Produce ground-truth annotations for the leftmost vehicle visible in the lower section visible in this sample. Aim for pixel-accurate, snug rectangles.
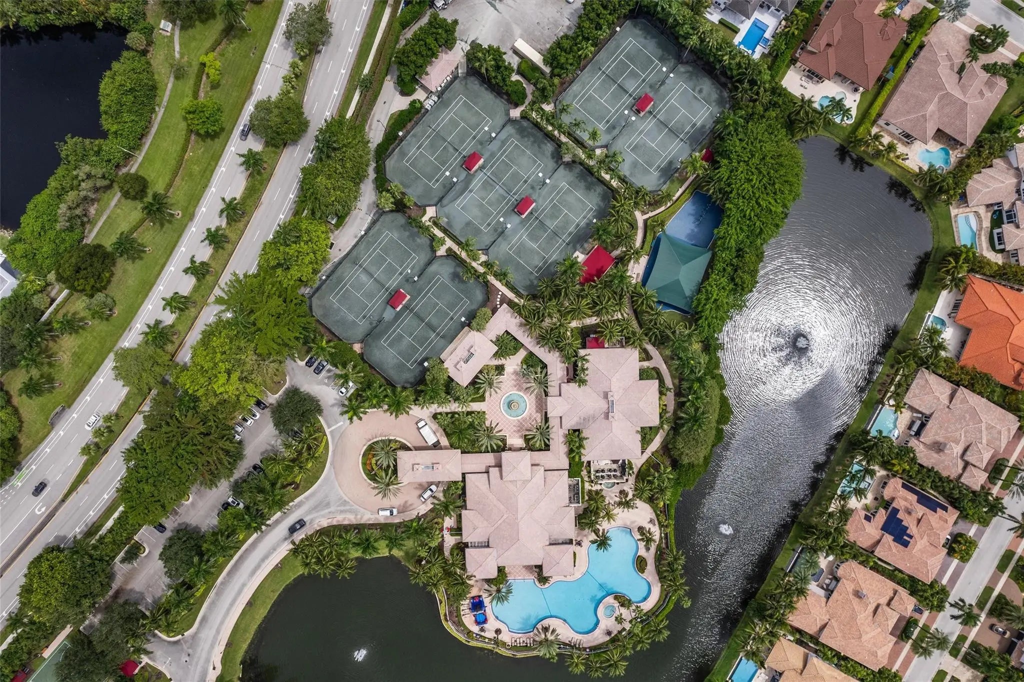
[31,479,47,497]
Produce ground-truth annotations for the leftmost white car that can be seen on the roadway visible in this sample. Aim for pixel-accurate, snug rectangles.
[85,412,100,430]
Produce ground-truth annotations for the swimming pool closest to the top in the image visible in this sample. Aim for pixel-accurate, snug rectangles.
[736,15,771,52]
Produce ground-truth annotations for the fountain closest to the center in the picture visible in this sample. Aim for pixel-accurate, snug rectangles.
[501,392,527,419]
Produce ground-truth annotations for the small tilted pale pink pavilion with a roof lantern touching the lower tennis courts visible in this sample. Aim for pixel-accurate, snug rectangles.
[441,327,497,387]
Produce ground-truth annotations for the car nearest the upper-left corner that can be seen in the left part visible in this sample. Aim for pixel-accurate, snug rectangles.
[238,122,252,141]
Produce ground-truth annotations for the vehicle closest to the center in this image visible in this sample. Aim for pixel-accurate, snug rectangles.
[416,418,440,449]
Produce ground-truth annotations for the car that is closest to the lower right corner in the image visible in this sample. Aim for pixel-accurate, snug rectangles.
[990,624,1008,638]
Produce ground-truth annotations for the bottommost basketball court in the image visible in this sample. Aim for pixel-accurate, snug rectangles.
[25,641,102,682]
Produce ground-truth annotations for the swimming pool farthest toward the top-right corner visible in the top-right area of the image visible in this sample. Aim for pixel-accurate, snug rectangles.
[917,145,953,171]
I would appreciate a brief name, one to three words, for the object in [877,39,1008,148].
house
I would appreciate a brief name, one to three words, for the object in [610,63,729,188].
tennis court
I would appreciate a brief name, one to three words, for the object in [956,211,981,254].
swimming pool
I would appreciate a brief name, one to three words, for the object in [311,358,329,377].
vehicle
